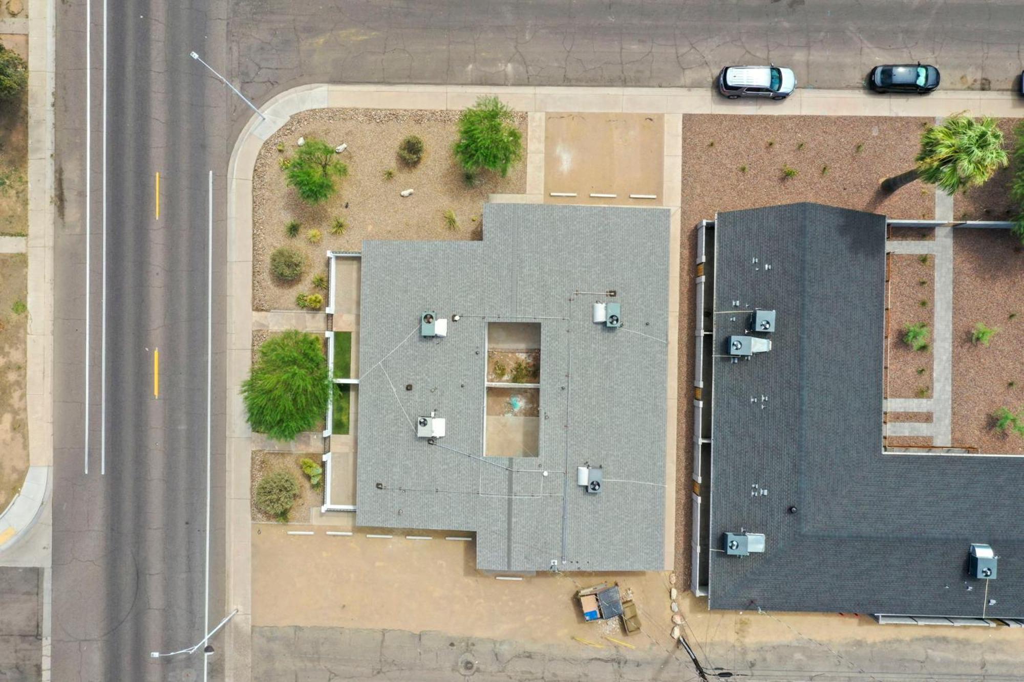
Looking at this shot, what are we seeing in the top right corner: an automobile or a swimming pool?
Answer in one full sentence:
The one visible in the top right corner is an automobile.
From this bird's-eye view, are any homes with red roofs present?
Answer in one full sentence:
No, no home with a red roof is visible in the view.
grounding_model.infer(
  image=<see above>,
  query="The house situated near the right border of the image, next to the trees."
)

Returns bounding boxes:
[707,203,1024,620]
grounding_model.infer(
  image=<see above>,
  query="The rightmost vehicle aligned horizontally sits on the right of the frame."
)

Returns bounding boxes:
[868,59,940,95]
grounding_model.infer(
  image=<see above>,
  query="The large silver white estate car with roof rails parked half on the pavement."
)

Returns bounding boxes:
[716,61,795,100]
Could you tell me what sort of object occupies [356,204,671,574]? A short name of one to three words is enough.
house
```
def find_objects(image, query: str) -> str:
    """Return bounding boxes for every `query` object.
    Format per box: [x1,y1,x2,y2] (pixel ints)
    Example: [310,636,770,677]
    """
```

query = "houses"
[707,203,1024,620]
[356,204,671,574]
